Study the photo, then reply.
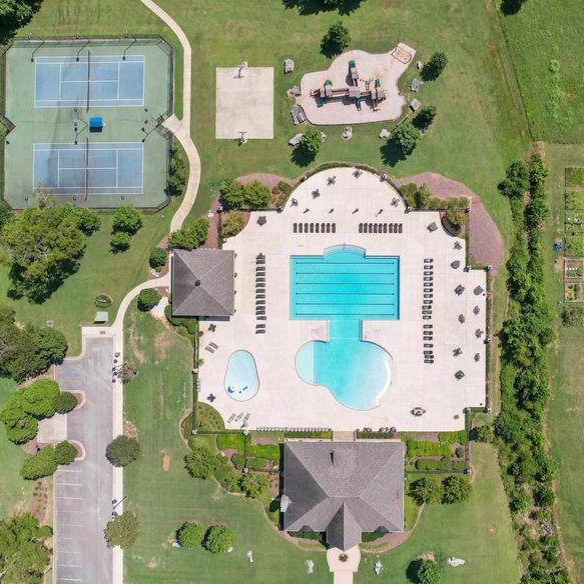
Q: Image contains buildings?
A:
Yes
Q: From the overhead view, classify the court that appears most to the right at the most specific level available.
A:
basketball court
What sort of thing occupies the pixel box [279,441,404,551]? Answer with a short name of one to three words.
building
